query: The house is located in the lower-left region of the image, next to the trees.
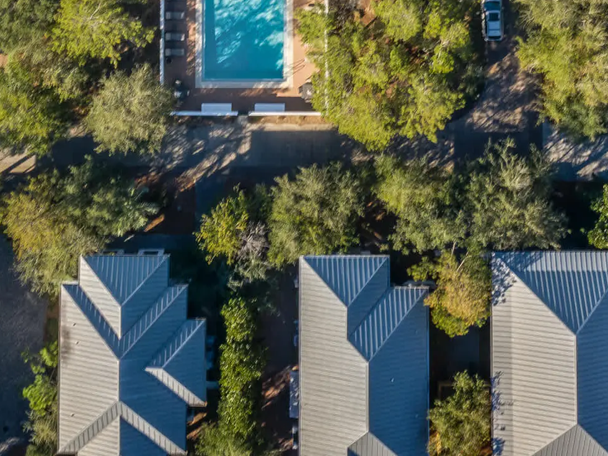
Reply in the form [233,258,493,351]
[57,245,208,456]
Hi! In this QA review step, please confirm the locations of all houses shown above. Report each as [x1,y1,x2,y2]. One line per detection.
[297,253,435,456]
[489,251,608,456]
[57,245,208,456]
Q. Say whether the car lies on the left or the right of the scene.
right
